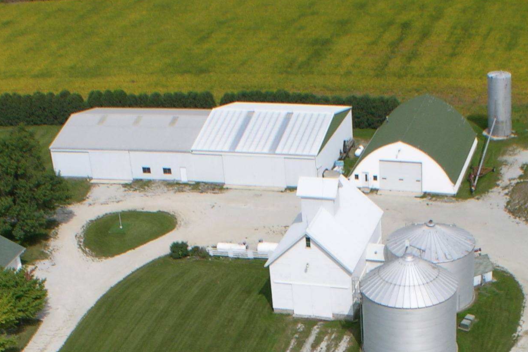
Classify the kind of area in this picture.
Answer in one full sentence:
The area seen from above is an industrial area.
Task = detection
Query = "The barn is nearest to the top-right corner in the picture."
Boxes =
[346,92,484,196]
